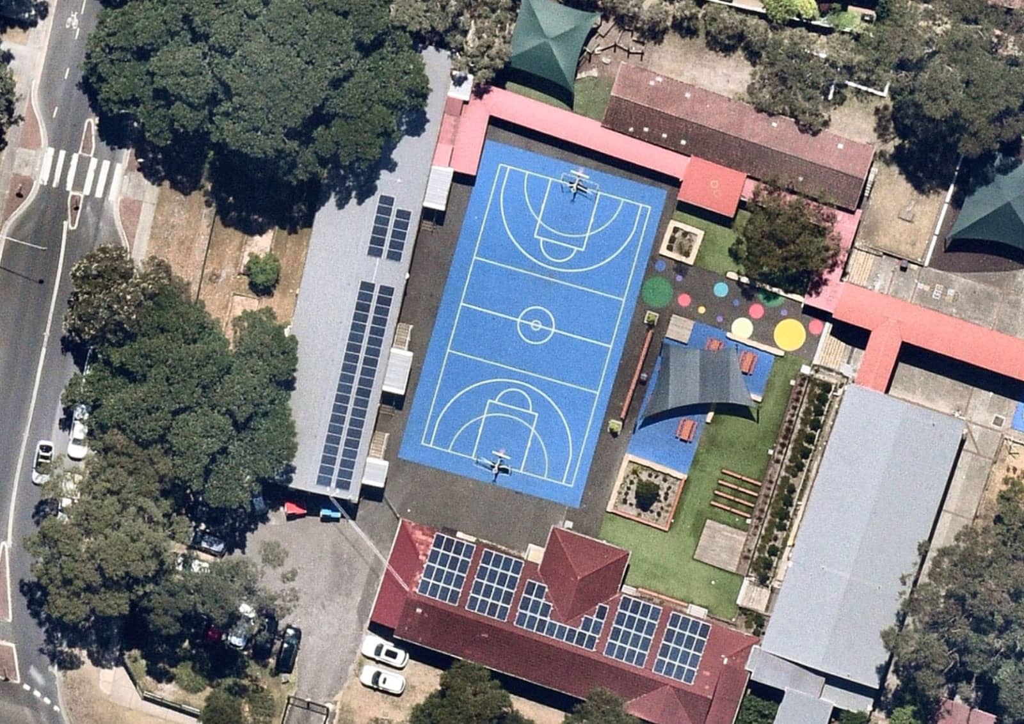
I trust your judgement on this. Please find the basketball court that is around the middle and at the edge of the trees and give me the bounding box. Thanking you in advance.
[398,140,667,508]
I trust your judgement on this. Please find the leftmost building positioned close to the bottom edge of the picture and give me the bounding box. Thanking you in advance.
[369,519,760,724]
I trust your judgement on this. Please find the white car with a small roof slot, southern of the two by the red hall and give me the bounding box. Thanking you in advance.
[359,666,407,696]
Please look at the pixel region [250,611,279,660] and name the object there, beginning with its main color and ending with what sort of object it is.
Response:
black car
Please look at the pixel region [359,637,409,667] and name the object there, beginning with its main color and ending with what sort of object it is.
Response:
white car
